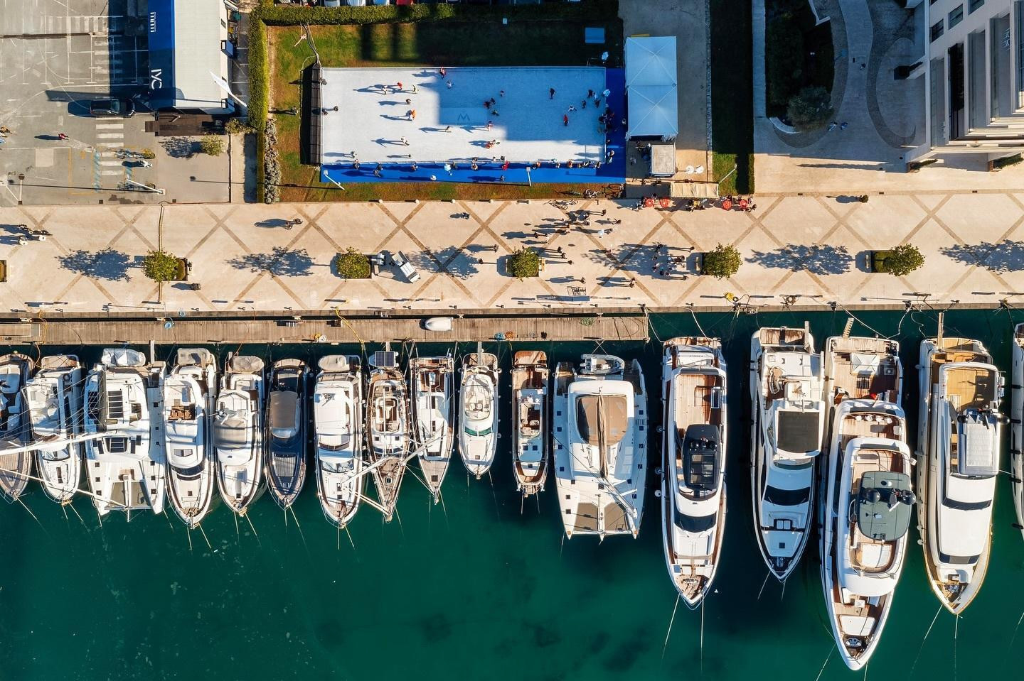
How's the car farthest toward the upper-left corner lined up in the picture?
horizontally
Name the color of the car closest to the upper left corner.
black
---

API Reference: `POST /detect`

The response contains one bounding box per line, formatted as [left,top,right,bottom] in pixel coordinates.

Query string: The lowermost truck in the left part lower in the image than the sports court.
[390,252,415,282]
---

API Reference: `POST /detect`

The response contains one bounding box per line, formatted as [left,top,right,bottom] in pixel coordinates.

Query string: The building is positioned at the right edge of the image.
[903,0,1024,166]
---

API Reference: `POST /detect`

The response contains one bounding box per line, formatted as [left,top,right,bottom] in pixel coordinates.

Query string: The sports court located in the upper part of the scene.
[319,63,626,183]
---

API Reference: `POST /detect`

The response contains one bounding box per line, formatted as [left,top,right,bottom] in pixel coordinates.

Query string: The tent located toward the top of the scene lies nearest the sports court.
[622,36,679,146]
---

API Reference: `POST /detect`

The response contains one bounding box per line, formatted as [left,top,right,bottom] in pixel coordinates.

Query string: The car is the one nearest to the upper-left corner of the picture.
[85,93,133,117]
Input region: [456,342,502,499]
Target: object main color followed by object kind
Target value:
white boat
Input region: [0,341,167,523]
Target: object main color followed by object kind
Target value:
white boat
